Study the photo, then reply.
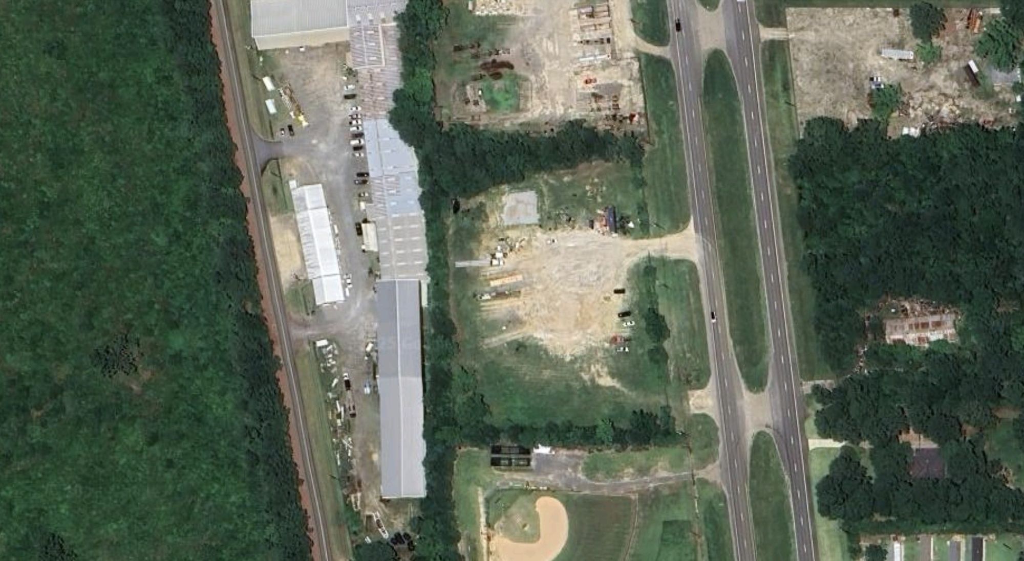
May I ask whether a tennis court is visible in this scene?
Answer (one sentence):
No, there appears to be no tennis court in this shot.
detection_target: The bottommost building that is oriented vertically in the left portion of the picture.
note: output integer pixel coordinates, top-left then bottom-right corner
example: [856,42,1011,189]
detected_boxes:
[376,280,427,498]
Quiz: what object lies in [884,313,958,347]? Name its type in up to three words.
barn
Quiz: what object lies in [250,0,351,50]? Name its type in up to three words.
building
